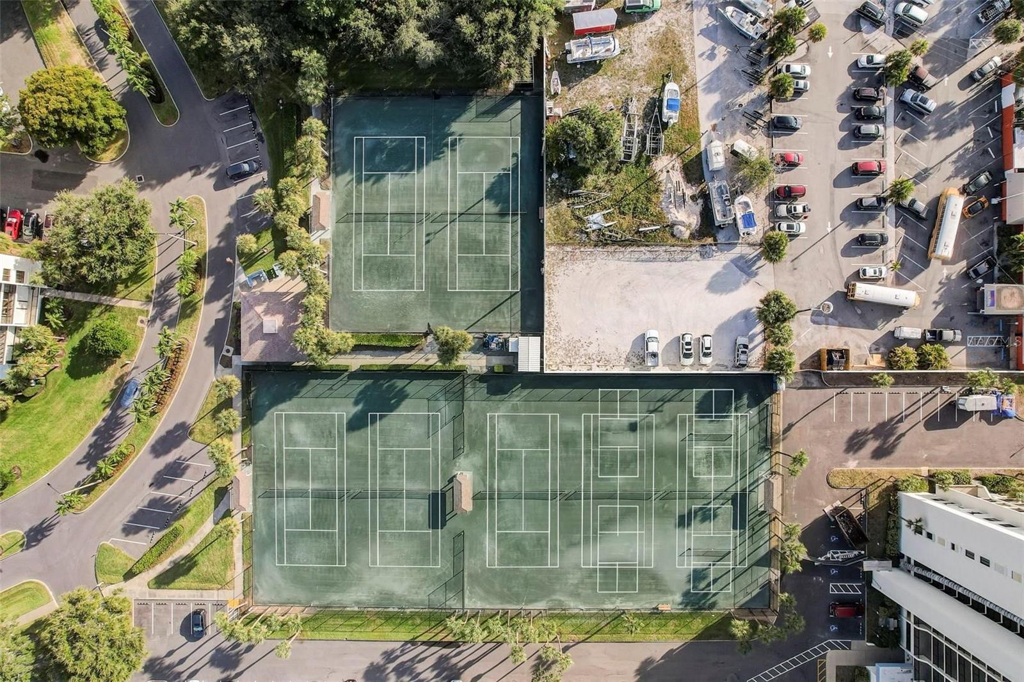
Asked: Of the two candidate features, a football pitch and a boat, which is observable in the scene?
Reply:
boat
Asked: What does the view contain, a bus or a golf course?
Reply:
bus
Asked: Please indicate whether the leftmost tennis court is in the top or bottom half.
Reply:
bottom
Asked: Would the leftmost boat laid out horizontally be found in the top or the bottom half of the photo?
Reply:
top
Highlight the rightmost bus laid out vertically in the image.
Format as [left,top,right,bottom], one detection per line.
[921,188,959,264]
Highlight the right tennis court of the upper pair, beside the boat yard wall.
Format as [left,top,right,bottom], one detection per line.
[448,136,520,291]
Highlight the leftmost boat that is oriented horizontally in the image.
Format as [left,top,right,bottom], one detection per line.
[564,37,623,62]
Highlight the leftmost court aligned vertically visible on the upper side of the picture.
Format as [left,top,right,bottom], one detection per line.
[353,136,425,291]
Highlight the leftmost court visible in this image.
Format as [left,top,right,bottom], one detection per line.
[275,412,347,566]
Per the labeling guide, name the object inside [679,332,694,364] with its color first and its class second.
white car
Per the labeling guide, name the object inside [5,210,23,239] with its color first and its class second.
red car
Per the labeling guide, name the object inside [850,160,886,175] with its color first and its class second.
red car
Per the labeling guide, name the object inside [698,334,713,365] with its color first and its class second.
white car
